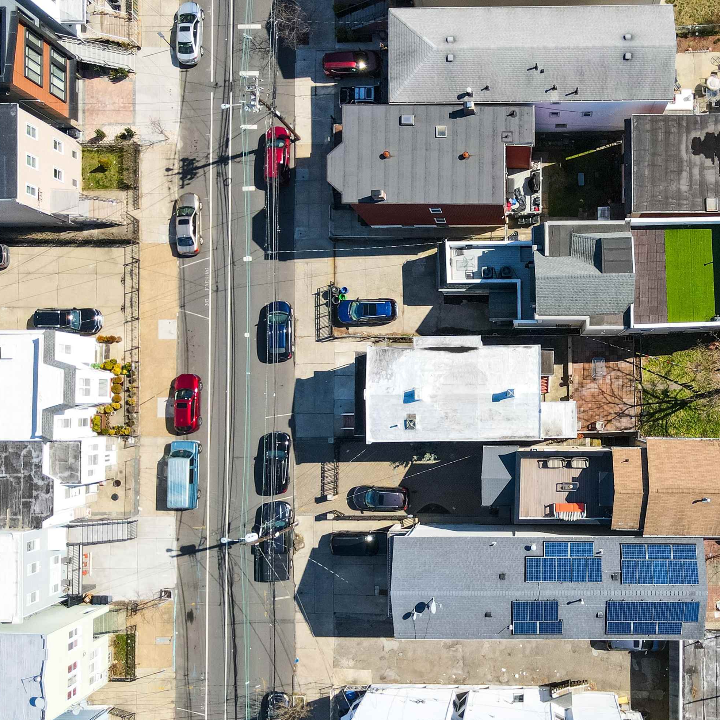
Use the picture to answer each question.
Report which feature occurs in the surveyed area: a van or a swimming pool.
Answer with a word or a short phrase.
van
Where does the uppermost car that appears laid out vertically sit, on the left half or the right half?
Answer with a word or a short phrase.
left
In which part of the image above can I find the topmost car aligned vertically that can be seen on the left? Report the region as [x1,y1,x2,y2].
[173,0,206,67]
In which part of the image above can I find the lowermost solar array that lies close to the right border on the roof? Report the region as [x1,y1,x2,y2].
[607,601,699,635]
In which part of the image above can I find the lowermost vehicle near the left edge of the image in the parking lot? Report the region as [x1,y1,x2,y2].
[34,302,106,334]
